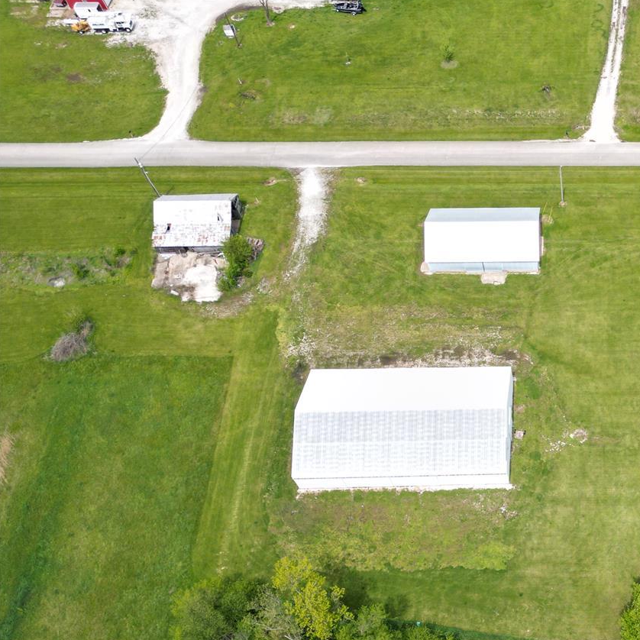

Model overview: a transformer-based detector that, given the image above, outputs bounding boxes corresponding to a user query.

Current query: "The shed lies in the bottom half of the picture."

[288,363,513,493]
